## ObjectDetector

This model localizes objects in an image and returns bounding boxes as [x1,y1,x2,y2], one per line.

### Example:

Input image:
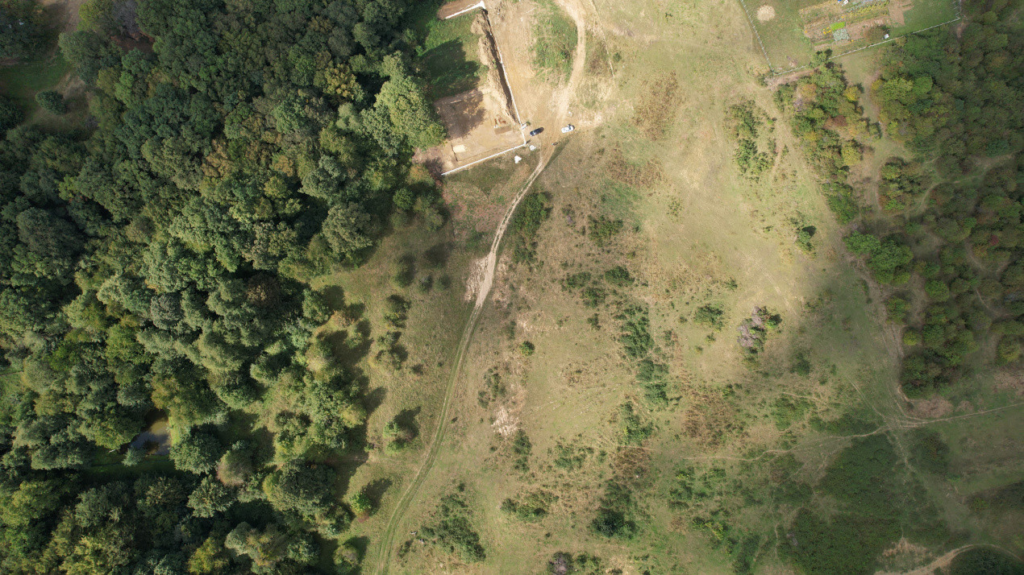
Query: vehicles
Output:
[560,122,575,133]
[530,125,544,136]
